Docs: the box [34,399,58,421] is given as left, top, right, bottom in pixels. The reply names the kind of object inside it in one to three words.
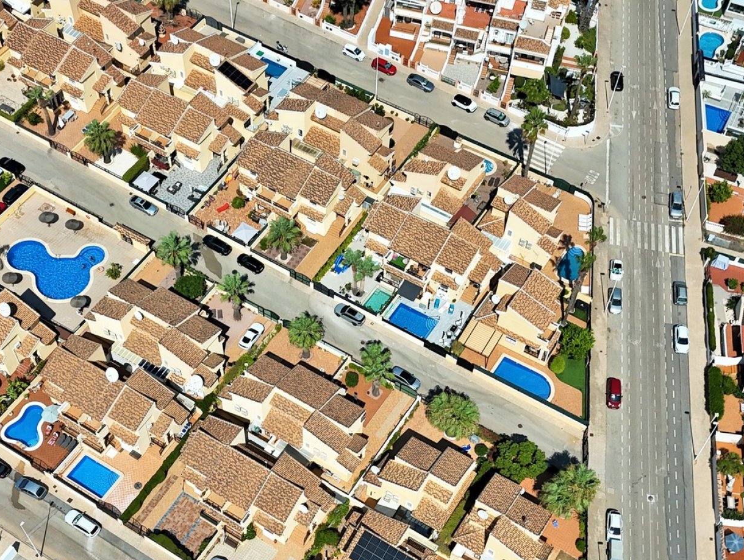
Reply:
umbrella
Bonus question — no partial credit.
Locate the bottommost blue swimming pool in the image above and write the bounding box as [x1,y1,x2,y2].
[63,453,123,502]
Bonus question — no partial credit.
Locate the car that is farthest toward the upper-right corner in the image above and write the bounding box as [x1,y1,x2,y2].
[666,87,681,111]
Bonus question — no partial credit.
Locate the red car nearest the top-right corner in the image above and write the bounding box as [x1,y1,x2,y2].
[370,57,397,77]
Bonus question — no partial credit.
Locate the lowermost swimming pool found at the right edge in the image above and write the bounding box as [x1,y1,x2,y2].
[705,104,733,134]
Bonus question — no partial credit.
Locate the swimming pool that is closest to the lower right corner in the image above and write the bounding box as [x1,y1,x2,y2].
[493,359,553,399]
